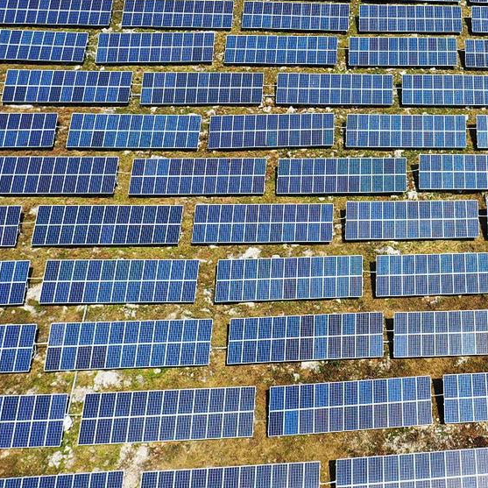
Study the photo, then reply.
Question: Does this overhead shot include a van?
No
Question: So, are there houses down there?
No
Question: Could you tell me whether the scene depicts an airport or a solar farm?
solar farm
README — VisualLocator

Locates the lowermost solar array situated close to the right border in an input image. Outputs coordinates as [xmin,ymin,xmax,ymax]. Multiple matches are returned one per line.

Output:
[336,449,488,488]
